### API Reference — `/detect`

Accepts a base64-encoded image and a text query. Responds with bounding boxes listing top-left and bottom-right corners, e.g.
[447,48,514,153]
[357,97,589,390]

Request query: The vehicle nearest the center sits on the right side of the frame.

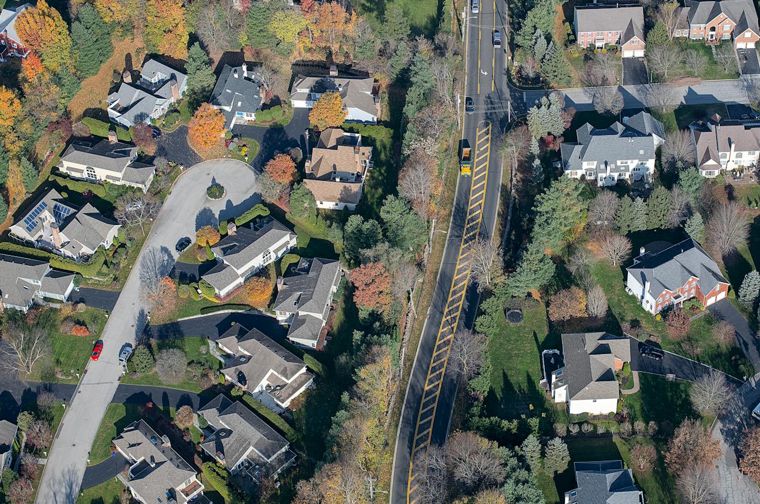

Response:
[459,148,473,180]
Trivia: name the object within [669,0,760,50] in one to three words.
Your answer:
house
